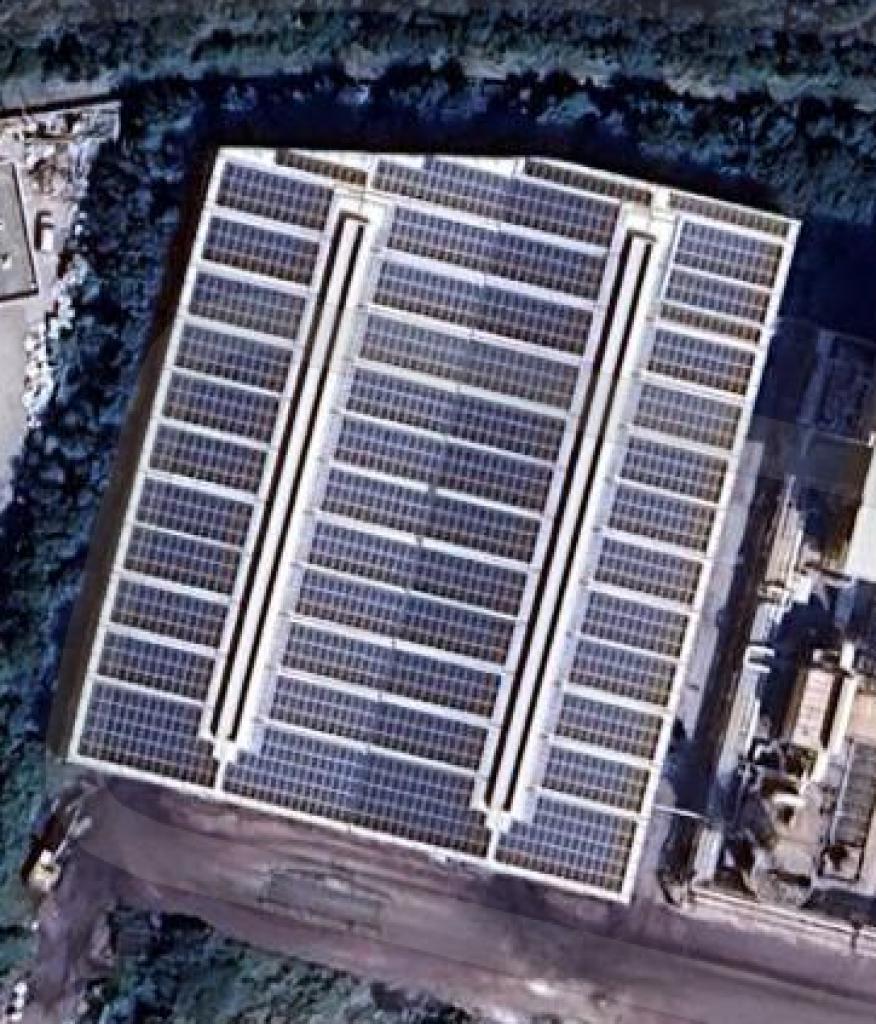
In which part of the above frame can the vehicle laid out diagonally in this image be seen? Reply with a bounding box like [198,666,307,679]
[26,822,86,893]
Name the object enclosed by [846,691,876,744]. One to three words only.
building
